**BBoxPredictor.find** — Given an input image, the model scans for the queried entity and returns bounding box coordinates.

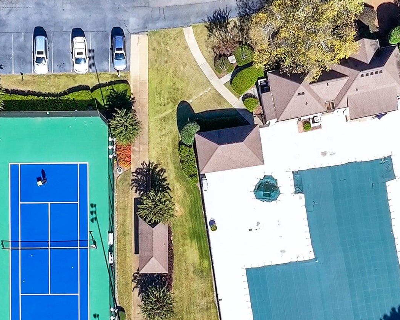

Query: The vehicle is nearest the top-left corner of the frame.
[32,38,49,73]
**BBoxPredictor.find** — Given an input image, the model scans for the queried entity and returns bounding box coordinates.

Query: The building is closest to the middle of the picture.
[196,124,264,175]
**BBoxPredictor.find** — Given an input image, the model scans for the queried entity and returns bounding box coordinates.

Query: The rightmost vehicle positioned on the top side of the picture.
[112,36,128,68]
